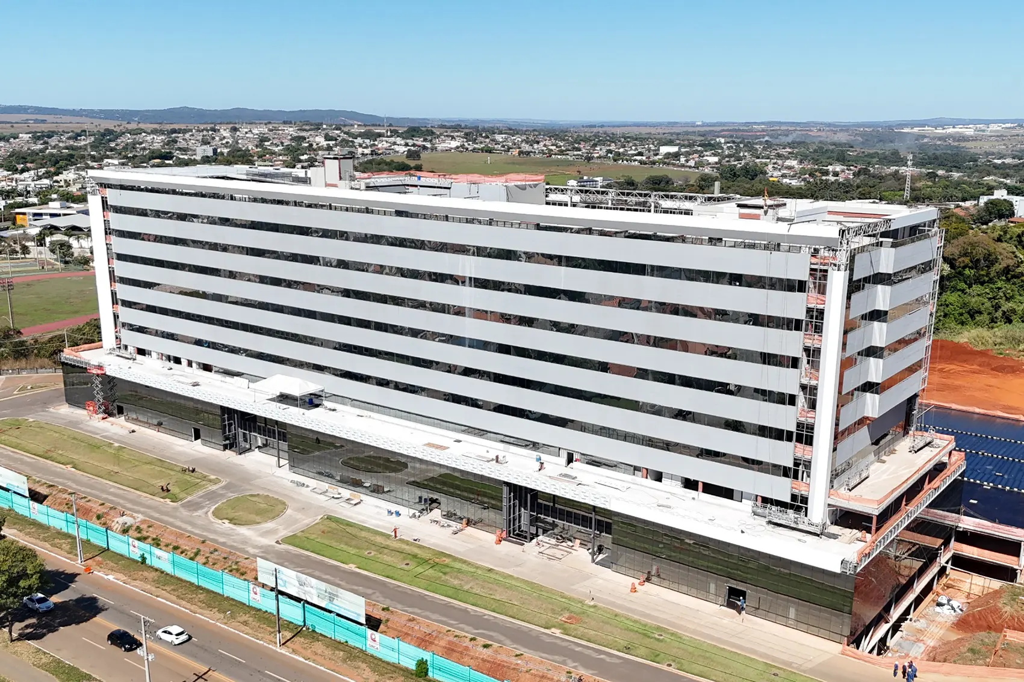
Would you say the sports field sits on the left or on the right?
left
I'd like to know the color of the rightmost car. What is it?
white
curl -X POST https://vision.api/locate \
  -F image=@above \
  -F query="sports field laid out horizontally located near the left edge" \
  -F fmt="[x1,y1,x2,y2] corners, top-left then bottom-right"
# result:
[0,276,121,338]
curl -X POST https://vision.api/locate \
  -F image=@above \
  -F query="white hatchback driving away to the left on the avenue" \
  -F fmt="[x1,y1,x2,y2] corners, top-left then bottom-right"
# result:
[157,622,192,644]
